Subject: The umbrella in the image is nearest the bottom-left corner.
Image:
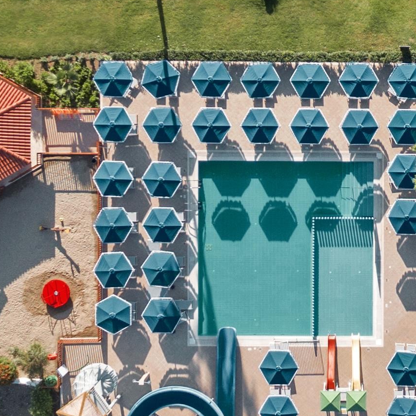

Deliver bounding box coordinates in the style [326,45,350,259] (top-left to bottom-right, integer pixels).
[97,295,133,336]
